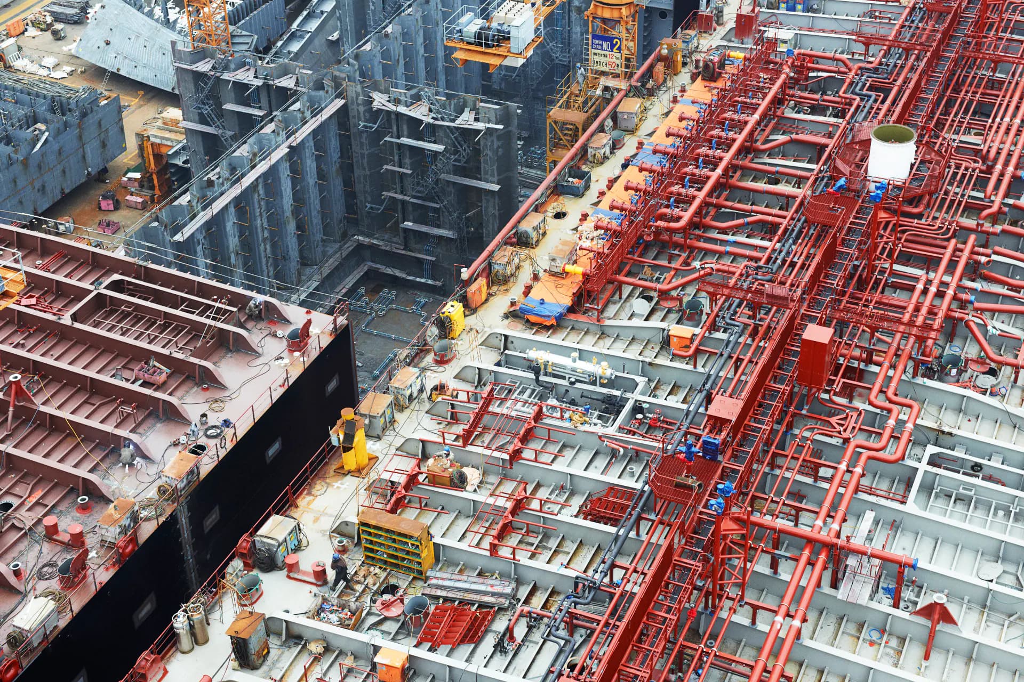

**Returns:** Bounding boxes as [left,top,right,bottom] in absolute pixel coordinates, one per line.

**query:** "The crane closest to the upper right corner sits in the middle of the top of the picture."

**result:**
[577,0,642,133]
